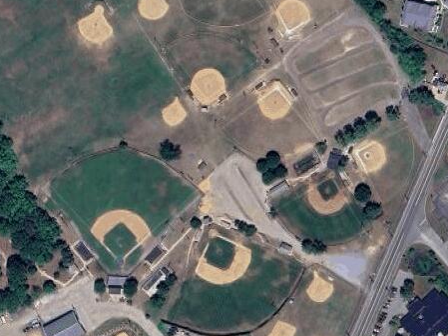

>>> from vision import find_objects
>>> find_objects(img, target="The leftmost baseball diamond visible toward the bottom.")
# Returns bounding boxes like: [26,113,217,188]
[52,149,198,273]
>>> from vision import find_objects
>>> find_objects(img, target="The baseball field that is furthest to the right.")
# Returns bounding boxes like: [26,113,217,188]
[350,139,388,176]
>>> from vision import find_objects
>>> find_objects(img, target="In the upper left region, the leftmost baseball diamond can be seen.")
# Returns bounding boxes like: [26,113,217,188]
[76,1,114,44]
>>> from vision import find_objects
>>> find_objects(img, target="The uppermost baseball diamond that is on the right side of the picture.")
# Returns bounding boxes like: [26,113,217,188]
[275,0,312,37]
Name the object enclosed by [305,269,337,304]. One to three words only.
baseball field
